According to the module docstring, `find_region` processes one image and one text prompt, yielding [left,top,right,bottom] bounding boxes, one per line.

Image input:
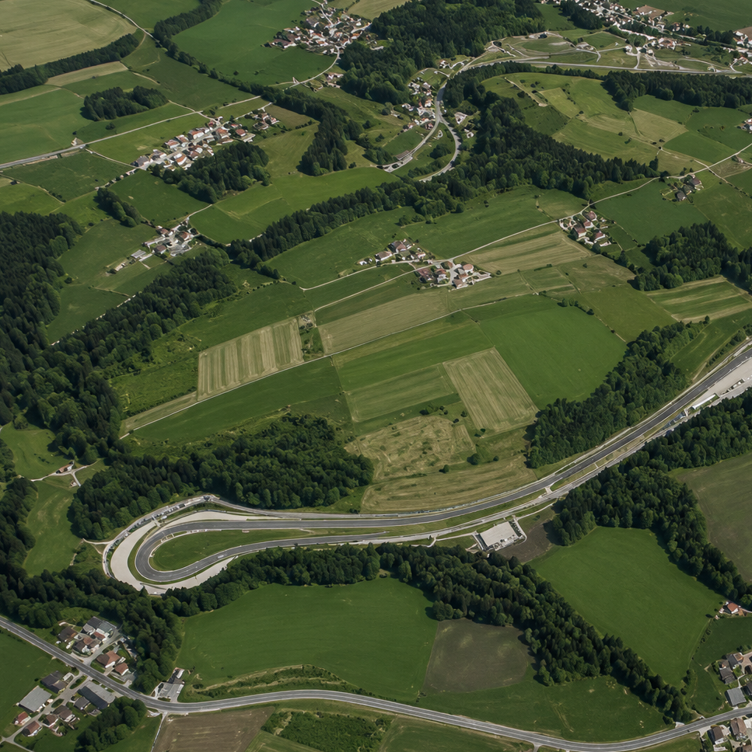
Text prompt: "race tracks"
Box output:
[134,346,752,582]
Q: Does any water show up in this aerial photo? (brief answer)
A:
No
